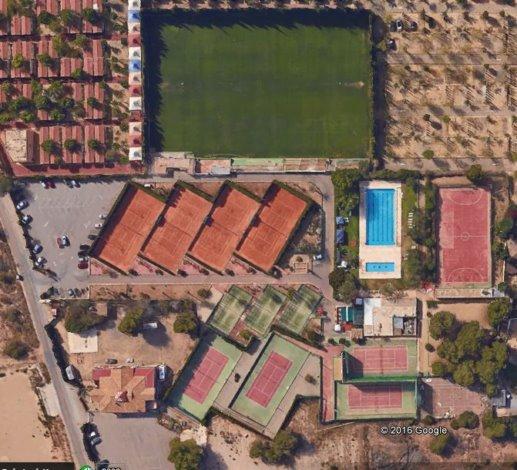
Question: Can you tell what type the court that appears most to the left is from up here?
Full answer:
The court that appears most to the left is a tennis court.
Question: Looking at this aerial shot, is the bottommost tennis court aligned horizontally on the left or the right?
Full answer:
The bottommost tennis court aligned horizontally sits on the right side.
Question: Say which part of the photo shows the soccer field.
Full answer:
The soccer field is in the top part of the image.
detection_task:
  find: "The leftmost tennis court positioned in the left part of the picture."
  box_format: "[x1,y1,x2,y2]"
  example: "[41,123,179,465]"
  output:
[90,183,166,275]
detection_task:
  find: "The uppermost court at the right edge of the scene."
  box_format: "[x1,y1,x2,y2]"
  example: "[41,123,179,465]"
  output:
[437,187,492,289]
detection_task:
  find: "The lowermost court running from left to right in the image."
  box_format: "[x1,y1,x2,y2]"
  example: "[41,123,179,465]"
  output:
[337,382,419,420]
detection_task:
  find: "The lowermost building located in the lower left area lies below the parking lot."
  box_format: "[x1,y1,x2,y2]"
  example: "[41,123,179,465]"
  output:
[90,369,157,413]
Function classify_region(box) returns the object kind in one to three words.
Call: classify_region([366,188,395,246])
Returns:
swimming pool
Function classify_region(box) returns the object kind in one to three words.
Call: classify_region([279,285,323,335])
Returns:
sports court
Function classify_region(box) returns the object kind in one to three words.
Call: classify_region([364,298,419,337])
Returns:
building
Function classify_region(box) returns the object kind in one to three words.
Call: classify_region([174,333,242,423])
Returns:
tennis court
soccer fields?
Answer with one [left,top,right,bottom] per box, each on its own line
[143,11,370,157]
